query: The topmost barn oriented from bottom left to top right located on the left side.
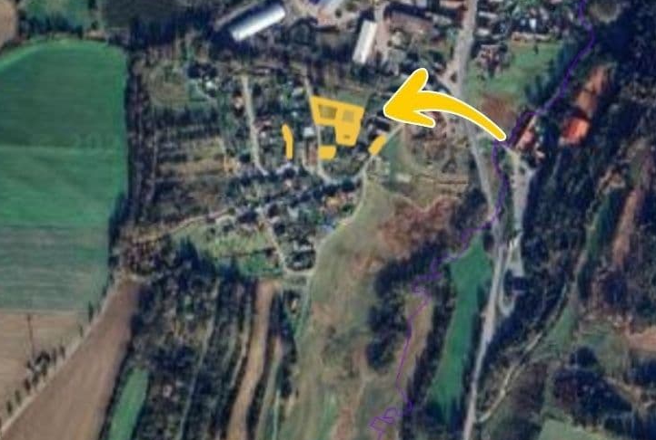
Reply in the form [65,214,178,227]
[228,0,286,40]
